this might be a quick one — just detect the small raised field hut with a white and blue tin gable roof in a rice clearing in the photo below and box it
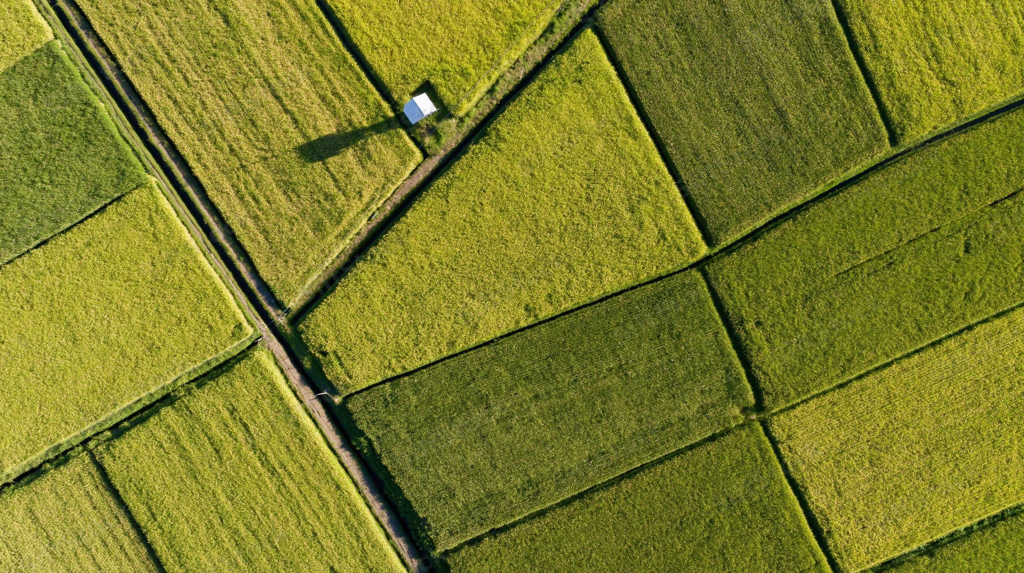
[404,93,439,124]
